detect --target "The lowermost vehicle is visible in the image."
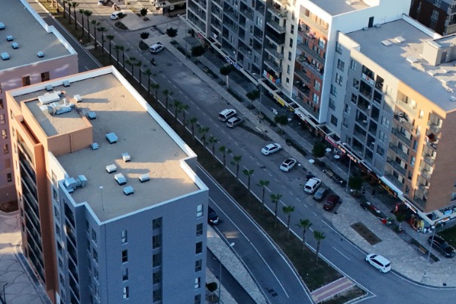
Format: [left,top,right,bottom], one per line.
[363,250,394,269]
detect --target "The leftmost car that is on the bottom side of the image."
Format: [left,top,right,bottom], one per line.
[207,203,224,223]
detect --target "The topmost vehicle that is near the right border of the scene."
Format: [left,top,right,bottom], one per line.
[429,234,456,253]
